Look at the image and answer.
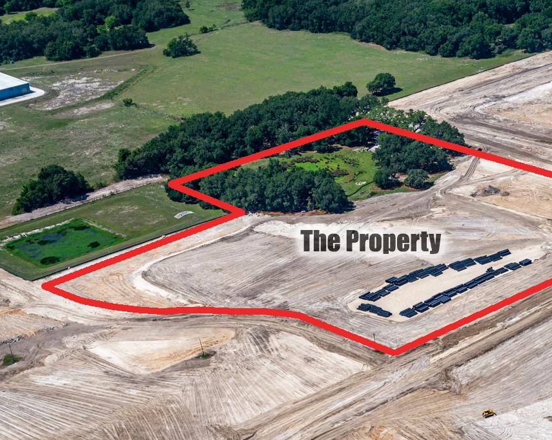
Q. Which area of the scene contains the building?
top left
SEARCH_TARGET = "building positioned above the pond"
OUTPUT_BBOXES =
[0,74,31,99]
